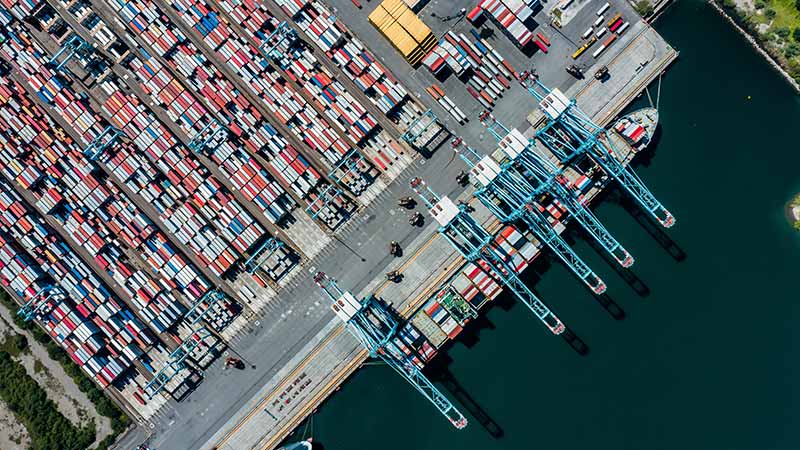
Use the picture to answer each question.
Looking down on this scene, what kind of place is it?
port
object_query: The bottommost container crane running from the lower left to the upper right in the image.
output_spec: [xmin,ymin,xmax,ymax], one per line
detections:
[141,359,185,401]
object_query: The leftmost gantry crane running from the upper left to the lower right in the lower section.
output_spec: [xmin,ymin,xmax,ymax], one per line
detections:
[316,273,470,428]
